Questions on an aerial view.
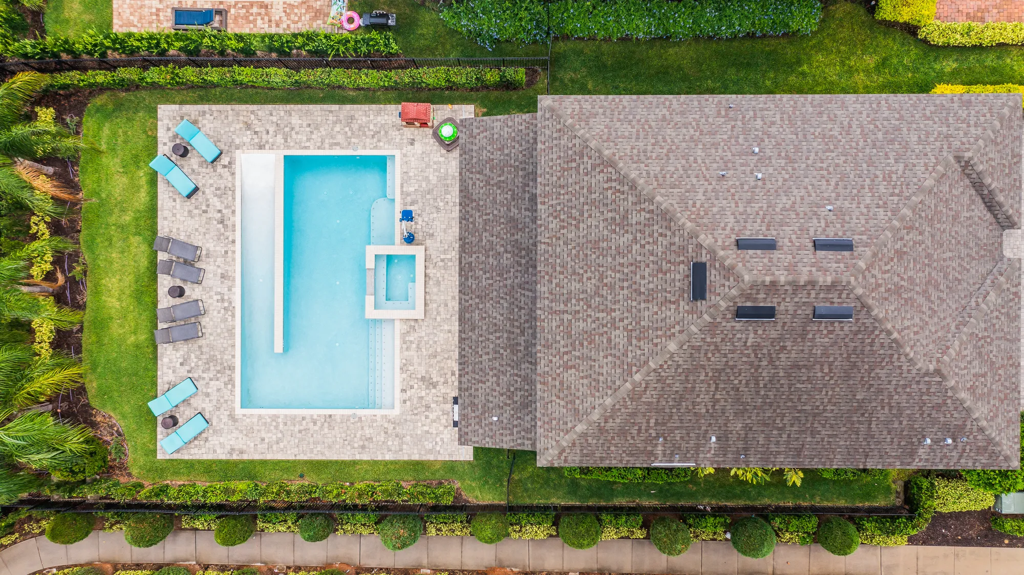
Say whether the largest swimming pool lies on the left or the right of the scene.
left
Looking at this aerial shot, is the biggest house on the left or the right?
right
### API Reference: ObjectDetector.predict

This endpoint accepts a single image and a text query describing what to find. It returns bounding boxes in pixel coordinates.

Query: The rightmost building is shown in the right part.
[459,93,1023,468]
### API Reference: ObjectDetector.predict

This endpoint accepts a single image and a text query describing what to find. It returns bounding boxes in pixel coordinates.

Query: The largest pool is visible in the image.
[236,145,400,419]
